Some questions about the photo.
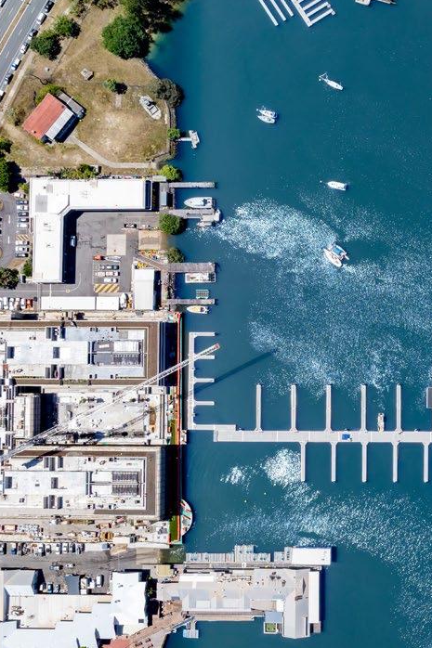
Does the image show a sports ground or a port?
port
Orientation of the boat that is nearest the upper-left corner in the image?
diagonally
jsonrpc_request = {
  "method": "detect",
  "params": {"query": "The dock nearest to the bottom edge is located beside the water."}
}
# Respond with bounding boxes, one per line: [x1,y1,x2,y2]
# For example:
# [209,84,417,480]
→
[158,563,321,638]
